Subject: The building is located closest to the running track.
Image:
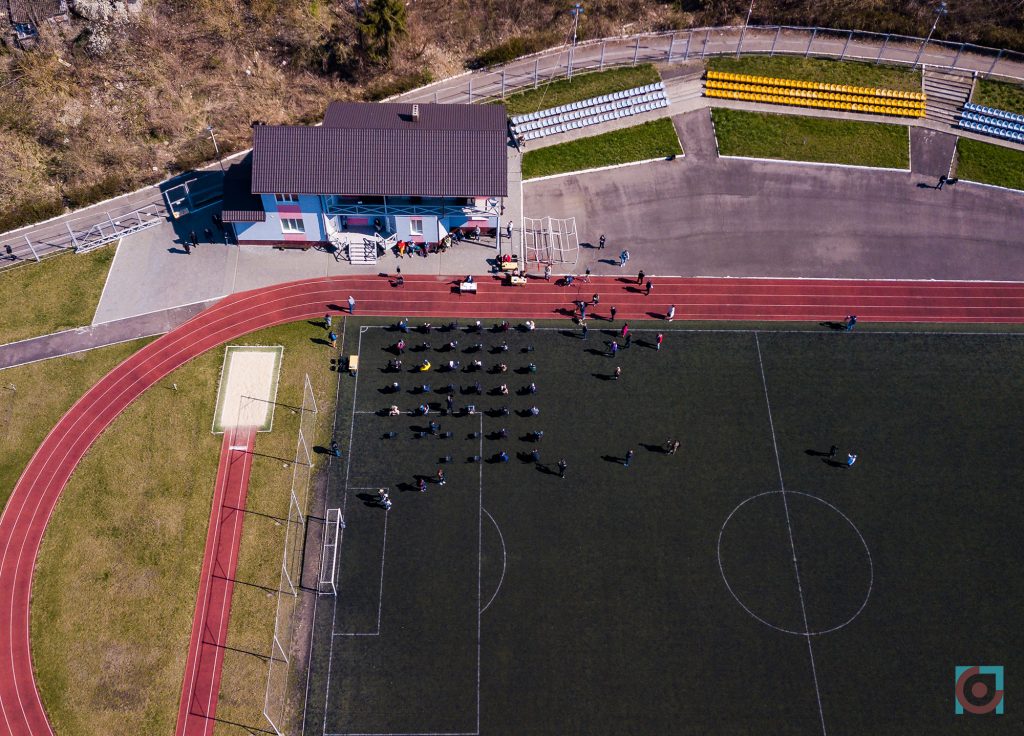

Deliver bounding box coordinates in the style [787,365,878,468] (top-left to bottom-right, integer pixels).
[221,102,507,264]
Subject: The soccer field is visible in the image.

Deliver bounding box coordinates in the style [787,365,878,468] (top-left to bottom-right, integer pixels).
[302,317,1024,736]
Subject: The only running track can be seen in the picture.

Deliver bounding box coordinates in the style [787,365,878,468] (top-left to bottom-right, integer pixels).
[0,274,1024,736]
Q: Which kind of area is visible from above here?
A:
sports ground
